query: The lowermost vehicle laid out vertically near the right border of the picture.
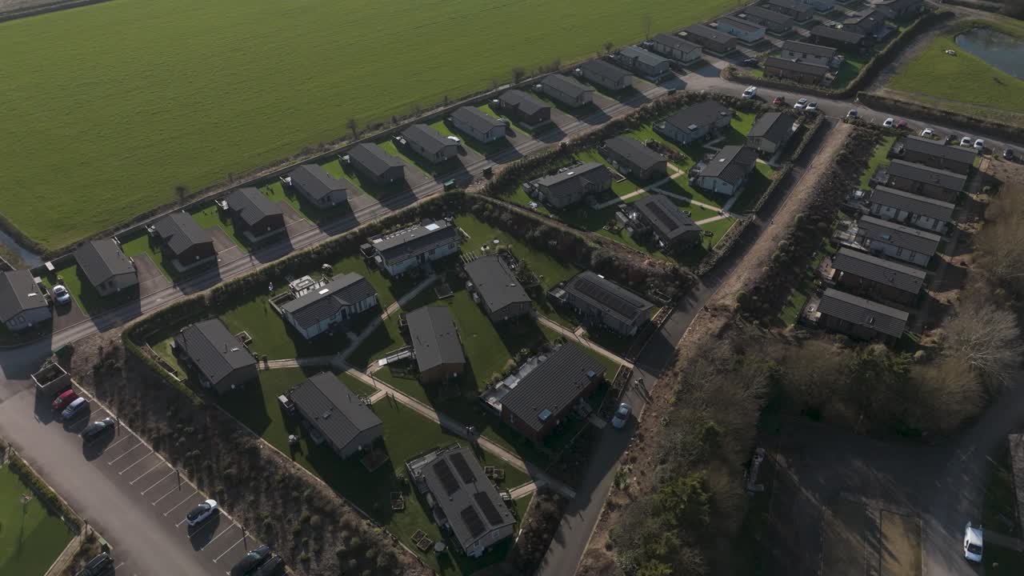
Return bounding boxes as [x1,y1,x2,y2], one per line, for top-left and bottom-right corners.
[963,517,985,564]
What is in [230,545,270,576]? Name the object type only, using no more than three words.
car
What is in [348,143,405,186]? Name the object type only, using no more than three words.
building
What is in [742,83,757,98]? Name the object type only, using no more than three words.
vehicle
